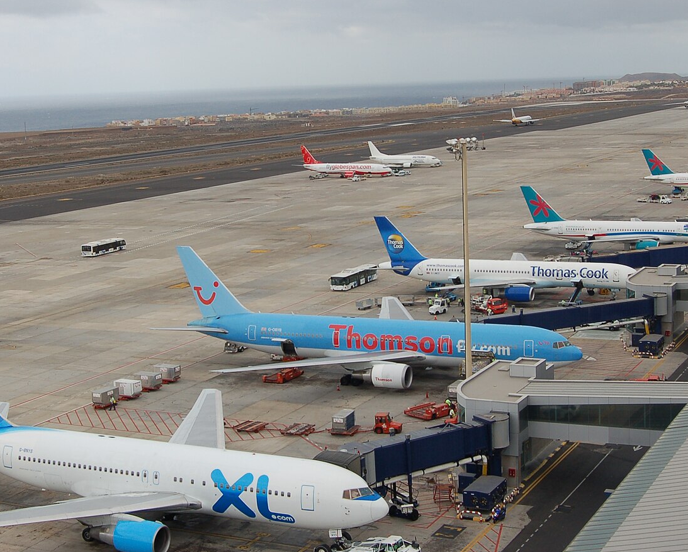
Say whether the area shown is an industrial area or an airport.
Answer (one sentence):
This looks like an airport.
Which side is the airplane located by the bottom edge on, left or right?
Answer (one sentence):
The airplane located by the bottom edge appears in the left half of the scene.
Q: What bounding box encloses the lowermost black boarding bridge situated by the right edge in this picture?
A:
[452,291,671,335]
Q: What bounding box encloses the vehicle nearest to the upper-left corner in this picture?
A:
[84,235,133,255]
